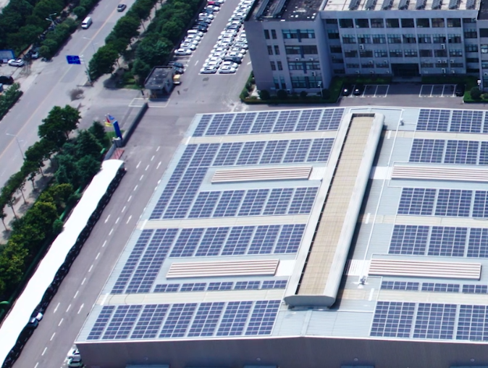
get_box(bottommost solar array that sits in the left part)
[87,300,282,340]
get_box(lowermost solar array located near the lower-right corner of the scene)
[370,302,488,341]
